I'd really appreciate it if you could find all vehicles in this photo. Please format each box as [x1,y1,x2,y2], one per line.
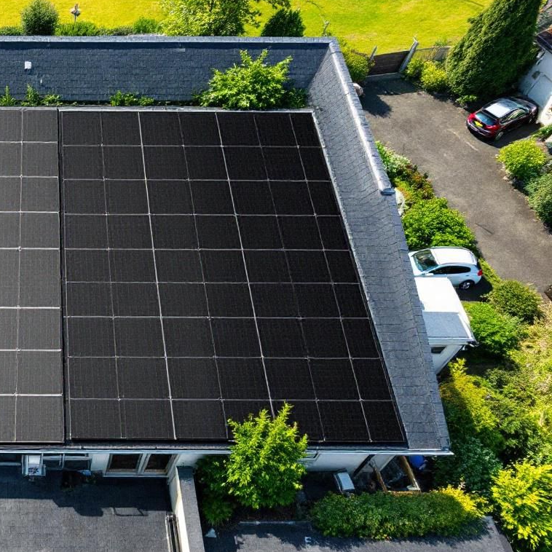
[409,252,490,287]
[476,97,542,133]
